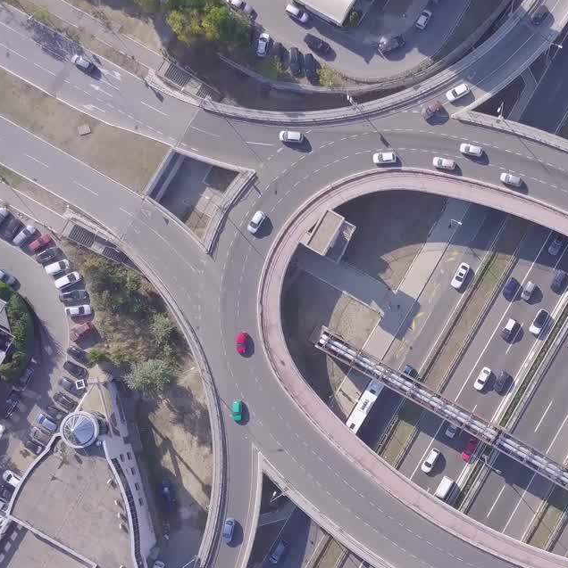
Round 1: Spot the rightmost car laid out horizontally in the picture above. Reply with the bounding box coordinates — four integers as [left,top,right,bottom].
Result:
[499,173,524,187]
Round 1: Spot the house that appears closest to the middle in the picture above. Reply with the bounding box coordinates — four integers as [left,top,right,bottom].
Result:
[305,209,362,262]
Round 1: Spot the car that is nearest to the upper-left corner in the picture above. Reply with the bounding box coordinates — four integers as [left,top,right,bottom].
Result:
[70,54,97,74]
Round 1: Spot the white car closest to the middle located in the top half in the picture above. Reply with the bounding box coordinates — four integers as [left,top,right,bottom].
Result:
[248,210,267,234]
